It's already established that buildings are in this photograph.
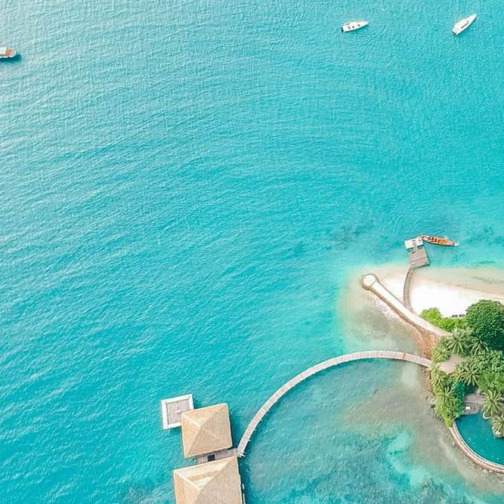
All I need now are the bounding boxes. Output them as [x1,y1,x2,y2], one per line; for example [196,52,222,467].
[172,456,243,504]
[179,402,234,458]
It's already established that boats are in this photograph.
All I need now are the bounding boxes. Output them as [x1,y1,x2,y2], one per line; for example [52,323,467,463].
[0,47,17,58]
[340,21,366,32]
[419,234,460,246]
[450,13,476,38]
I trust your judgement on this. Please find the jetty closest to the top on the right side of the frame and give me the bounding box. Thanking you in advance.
[404,236,430,268]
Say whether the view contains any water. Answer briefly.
Yes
